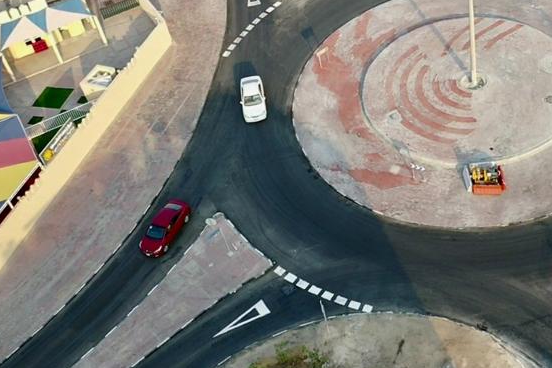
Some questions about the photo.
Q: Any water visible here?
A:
No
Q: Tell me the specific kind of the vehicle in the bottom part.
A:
car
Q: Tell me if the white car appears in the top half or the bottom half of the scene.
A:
top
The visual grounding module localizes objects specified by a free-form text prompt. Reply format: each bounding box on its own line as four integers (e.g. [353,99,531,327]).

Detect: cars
[138,198,192,258]
[238,77,268,123]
